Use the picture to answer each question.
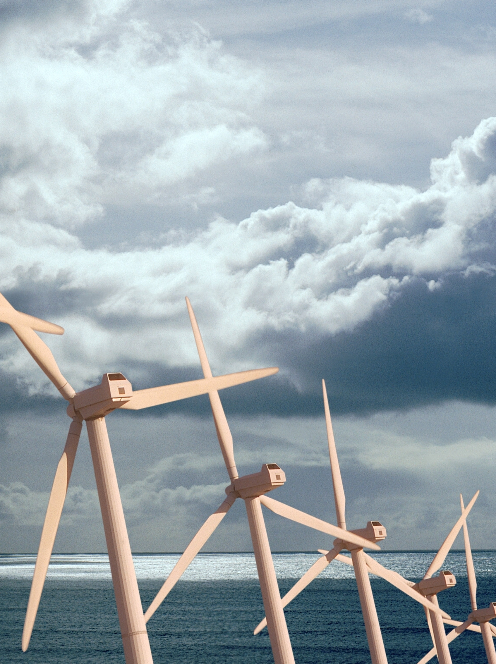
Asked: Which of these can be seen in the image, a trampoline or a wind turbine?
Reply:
wind turbine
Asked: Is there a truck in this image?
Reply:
No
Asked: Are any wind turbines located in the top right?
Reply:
No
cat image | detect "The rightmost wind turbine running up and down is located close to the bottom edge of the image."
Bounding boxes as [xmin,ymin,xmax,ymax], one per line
[418,495,496,664]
